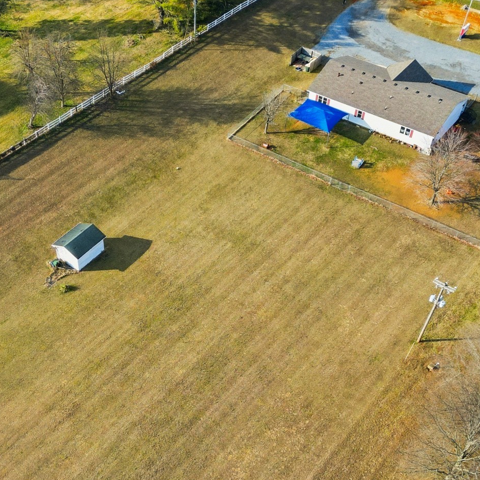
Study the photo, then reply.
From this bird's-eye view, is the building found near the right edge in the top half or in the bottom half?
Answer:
top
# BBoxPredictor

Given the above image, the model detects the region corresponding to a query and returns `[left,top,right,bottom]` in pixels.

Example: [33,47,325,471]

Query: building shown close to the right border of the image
[306,55,475,154]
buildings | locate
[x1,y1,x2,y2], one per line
[52,224,106,270]
[306,55,475,154]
